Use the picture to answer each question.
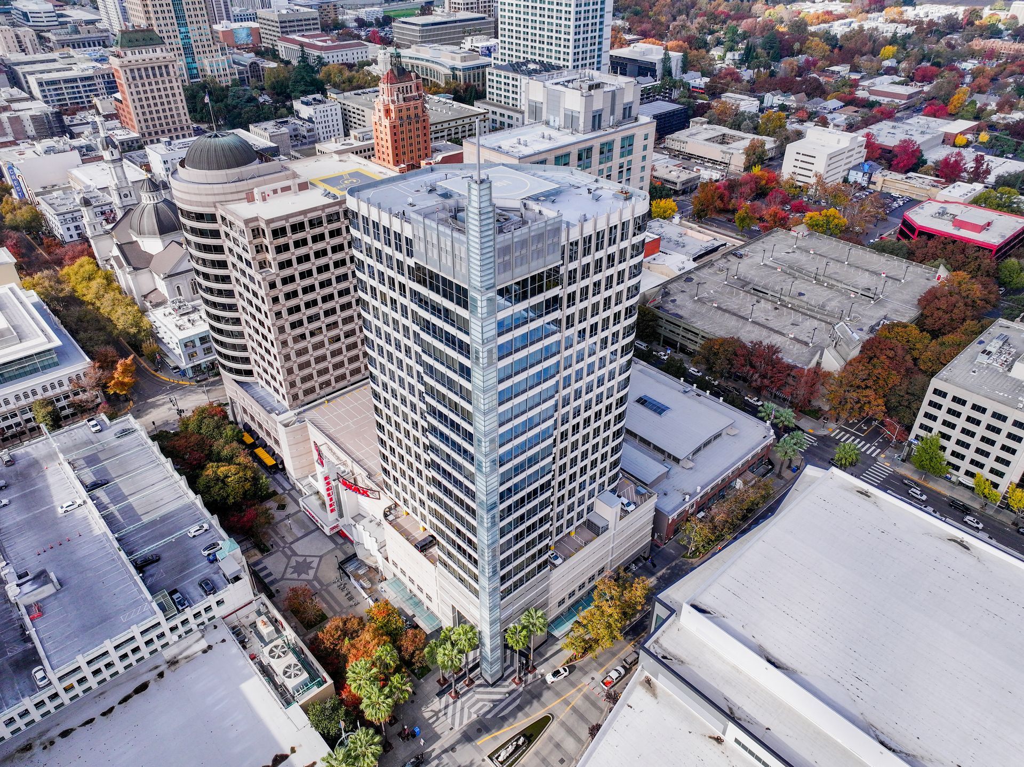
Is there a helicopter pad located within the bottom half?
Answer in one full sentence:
No, there's no helicopter pad to be seen within the bottom half.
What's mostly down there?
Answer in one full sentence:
For the most part, this view shows buildings.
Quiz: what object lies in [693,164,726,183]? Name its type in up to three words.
building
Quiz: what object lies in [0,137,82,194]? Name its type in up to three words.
building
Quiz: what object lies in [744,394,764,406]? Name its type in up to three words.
vehicle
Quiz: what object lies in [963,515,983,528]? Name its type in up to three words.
vehicle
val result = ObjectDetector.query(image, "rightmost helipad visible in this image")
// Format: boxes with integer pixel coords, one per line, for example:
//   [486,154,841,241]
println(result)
[432,164,574,203]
